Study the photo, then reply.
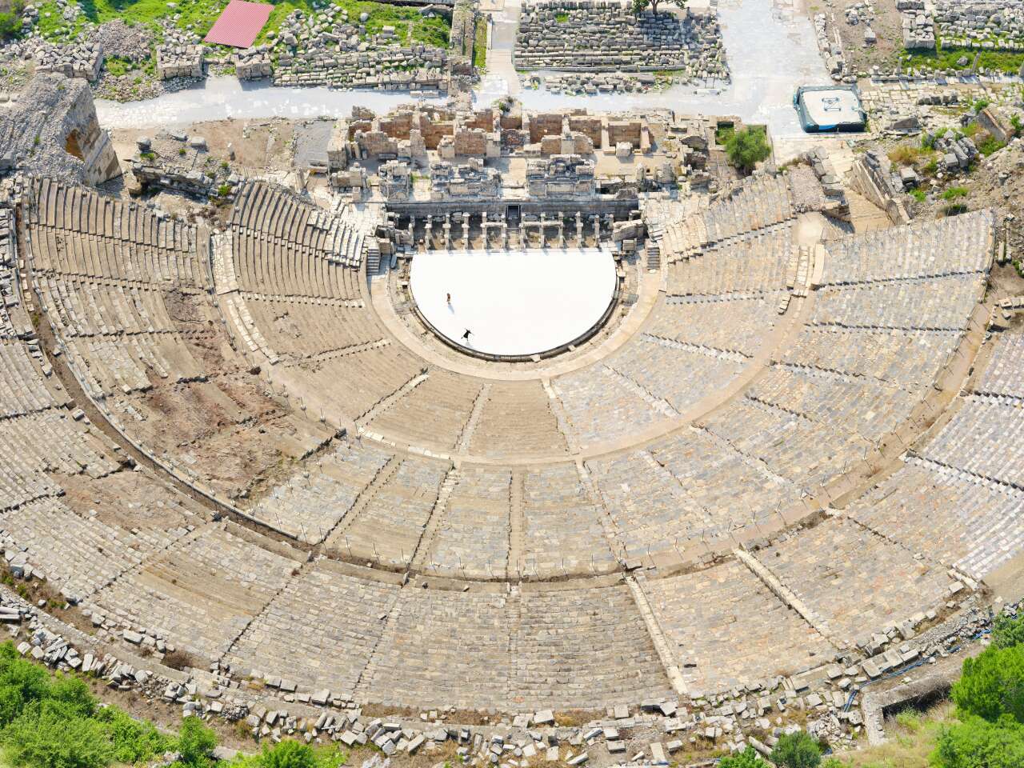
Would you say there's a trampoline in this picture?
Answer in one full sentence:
No, no trampoline is visible in the scene.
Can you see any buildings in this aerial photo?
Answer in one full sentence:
Yes, there's a building down there.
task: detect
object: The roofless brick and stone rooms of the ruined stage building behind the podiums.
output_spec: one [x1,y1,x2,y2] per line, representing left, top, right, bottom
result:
[327,100,701,168]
